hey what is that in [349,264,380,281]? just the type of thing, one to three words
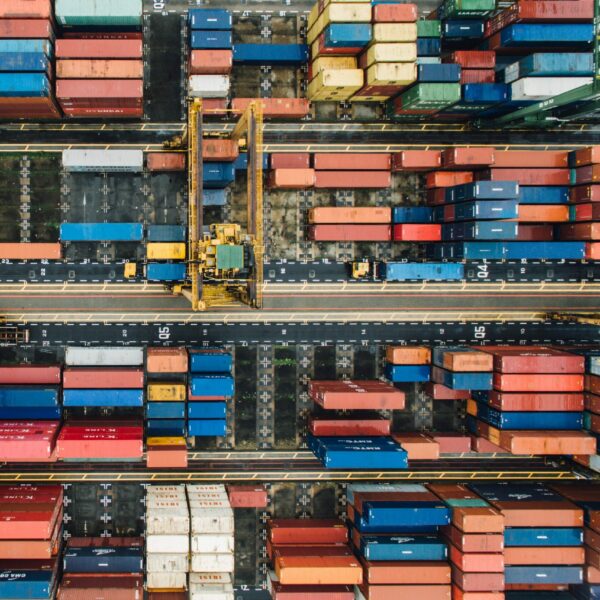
vehicle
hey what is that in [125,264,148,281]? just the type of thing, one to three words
vehicle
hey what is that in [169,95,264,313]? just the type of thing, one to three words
container crane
